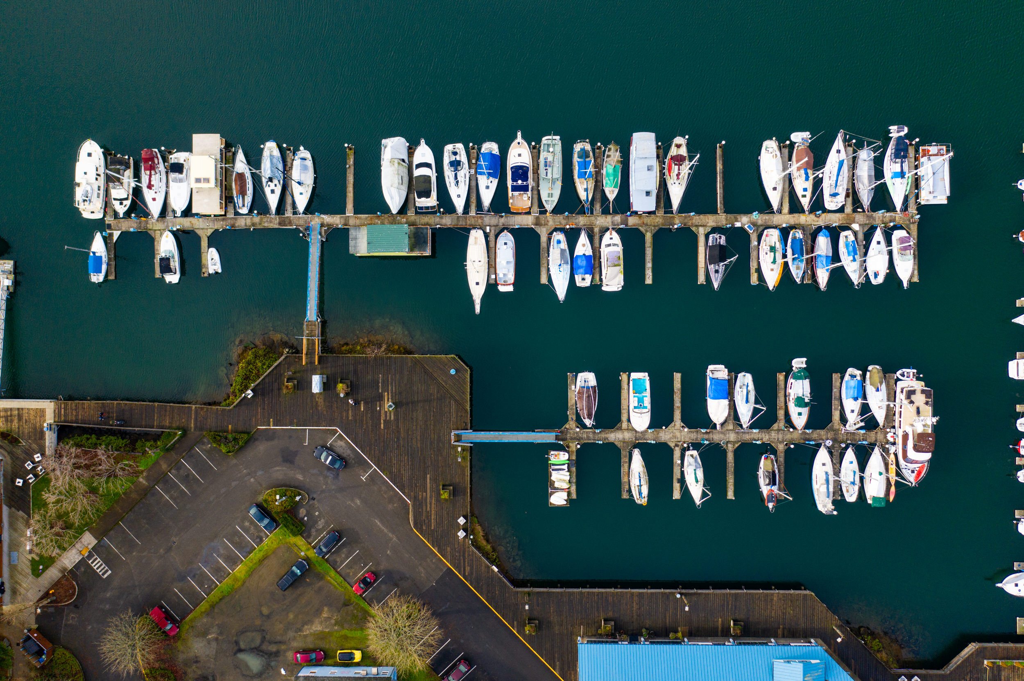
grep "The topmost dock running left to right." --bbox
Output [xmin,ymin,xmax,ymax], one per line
[106,143,919,284]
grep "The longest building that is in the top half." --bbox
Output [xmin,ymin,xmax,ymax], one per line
[349,224,434,256]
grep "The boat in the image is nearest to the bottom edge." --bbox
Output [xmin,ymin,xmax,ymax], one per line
[993,570,1024,598]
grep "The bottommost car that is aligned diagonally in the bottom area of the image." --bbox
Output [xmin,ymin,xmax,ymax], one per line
[441,658,472,681]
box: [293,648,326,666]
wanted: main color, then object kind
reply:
red car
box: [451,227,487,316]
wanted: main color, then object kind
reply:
white boat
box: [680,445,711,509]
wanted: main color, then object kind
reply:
white boat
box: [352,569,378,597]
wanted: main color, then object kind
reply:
red car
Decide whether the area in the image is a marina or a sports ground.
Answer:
marina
